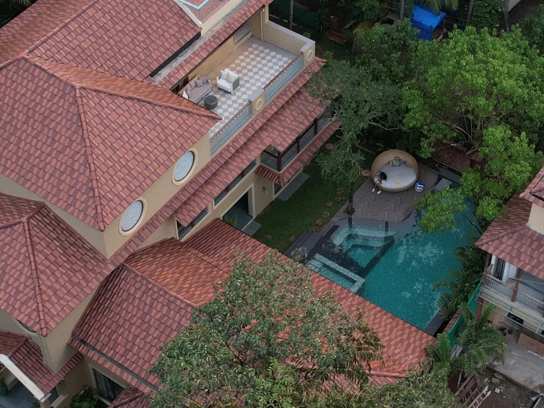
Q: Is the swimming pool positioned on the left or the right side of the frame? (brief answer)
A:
right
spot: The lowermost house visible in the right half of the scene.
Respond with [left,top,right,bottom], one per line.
[471,159,544,341]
